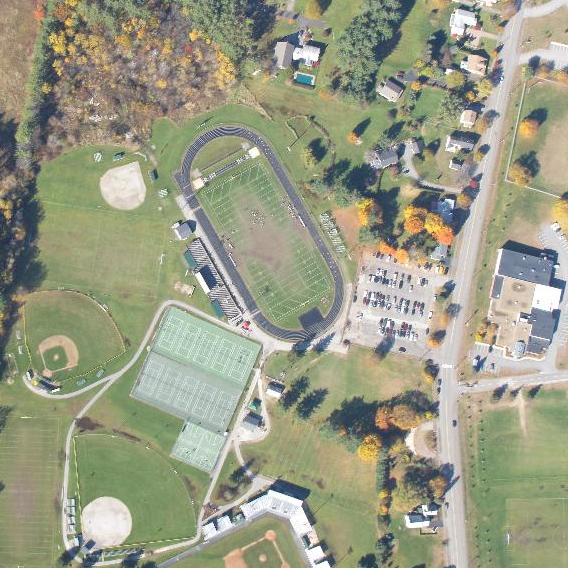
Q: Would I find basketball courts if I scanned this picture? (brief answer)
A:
Yes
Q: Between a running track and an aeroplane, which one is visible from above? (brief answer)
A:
running track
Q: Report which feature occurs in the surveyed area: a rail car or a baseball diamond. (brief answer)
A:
baseball diamond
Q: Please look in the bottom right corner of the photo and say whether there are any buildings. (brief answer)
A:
Yes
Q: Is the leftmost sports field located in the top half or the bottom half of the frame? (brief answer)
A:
bottom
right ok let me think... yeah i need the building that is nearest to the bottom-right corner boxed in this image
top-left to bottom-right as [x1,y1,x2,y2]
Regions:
[405,507,436,528]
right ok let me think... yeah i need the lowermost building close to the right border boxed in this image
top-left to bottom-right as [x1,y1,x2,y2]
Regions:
[486,249,562,359]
